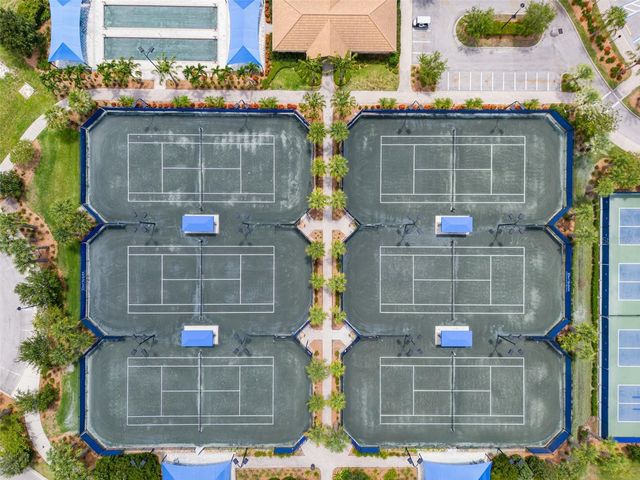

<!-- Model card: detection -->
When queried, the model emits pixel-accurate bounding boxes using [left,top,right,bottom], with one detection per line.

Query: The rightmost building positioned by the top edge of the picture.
[273,0,396,64]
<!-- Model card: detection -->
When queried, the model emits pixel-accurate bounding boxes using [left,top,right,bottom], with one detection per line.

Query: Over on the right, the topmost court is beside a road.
[344,111,566,225]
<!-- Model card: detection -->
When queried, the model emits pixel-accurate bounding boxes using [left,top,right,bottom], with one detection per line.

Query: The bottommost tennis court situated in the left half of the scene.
[86,336,312,449]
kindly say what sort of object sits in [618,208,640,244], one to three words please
sports court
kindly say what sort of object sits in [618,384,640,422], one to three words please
sports court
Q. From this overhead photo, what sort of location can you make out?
sports ground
